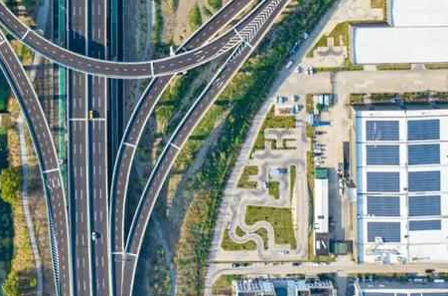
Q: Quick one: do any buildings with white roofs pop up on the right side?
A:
Yes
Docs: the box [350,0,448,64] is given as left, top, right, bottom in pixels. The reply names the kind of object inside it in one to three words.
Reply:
building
